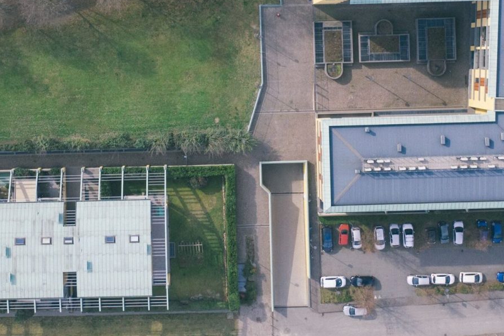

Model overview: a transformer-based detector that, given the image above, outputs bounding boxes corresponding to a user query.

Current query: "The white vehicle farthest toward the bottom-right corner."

[457,270,483,285]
